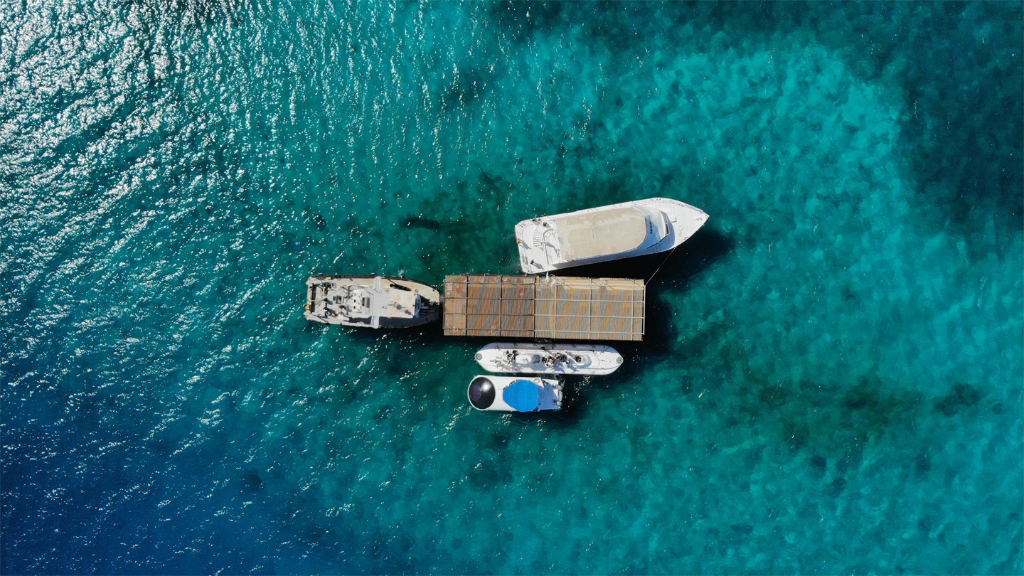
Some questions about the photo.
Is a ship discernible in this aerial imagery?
Yes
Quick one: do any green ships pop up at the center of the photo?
No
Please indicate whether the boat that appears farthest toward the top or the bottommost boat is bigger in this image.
the boat that appears farthest toward the top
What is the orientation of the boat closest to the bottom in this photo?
horizontally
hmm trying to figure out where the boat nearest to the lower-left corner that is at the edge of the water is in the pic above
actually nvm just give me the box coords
[304,272,443,329]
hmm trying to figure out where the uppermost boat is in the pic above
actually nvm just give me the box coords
[515,198,710,274]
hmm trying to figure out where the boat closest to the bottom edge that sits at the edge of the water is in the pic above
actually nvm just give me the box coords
[468,375,563,412]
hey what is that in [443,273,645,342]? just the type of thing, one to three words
ship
